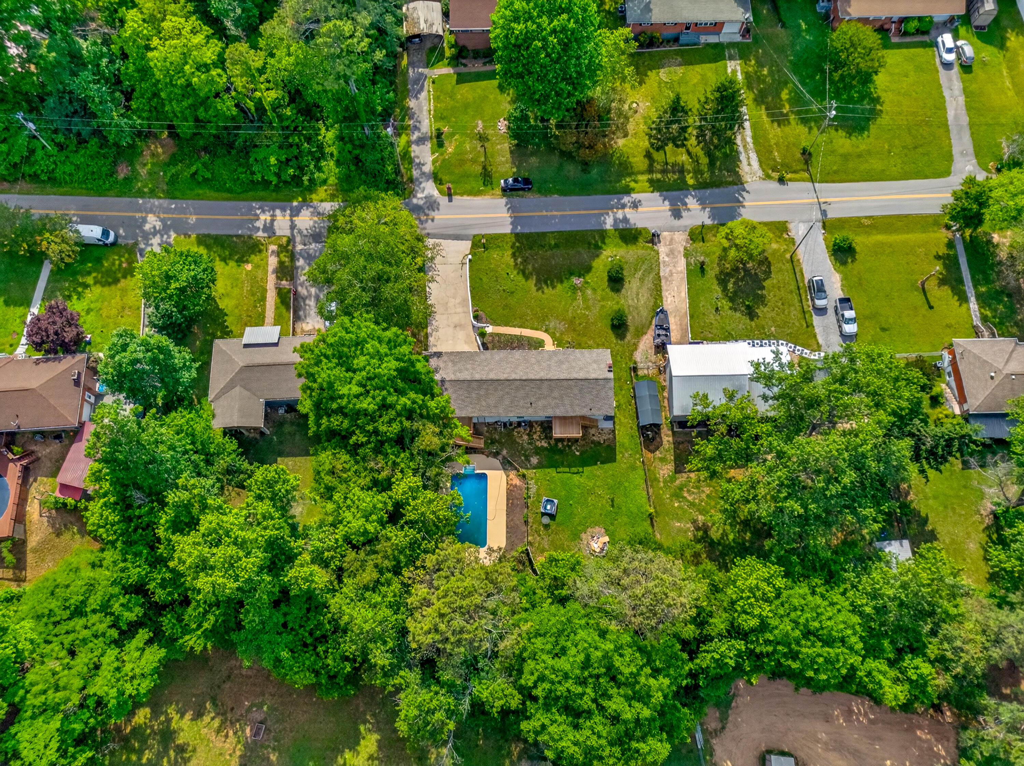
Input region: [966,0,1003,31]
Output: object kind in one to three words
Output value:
shed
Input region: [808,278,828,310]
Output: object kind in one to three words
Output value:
car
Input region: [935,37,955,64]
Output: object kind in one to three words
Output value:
car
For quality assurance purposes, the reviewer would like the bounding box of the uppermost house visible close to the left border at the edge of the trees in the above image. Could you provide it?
[0,350,96,436]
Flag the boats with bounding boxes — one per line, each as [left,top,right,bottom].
[653,306,672,352]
